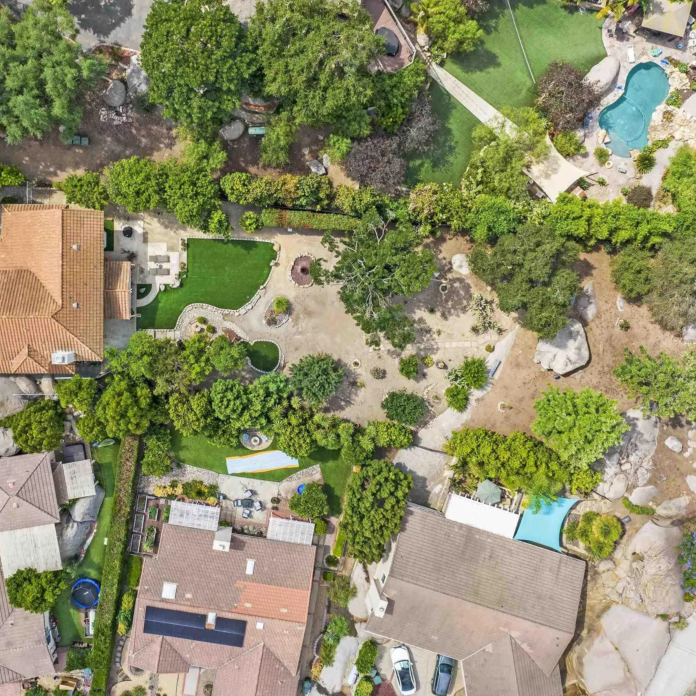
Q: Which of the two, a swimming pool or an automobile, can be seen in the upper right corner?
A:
swimming pool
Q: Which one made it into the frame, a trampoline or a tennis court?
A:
trampoline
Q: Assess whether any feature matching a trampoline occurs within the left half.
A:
Yes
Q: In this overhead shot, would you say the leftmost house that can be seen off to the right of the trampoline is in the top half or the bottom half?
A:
bottom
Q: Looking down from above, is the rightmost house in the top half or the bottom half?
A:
bottom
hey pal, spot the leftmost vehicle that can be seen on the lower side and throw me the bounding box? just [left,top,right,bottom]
[390,643,419,696]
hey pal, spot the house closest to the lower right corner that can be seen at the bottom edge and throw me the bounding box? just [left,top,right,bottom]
[364,502,585,696]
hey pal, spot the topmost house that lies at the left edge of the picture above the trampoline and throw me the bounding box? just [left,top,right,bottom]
[0,204,132,374]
